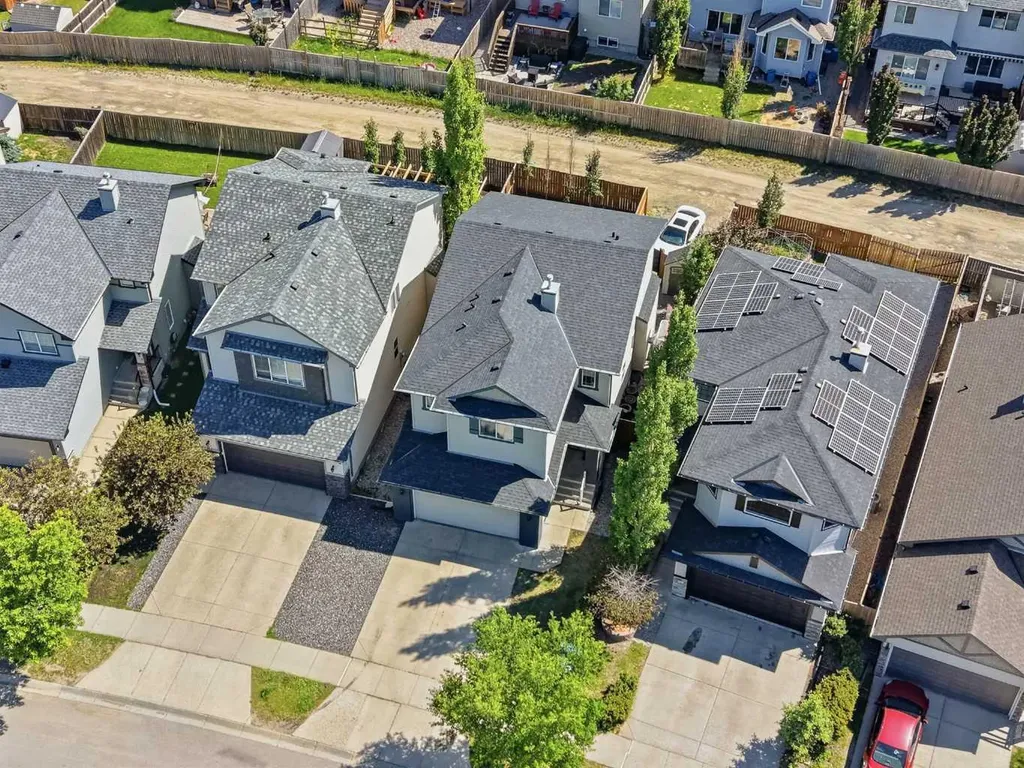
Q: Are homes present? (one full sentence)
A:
Yes, the image includes a home.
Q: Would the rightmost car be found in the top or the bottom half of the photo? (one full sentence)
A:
You can find the rightmost car in the bottom half.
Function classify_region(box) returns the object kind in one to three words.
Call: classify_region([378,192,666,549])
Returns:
house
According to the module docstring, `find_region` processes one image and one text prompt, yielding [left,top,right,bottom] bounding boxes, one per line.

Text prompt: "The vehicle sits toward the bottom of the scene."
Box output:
[862,675,930,768]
